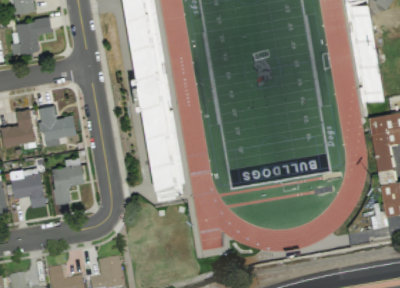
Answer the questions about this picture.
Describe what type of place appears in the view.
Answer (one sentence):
It's a sports ground.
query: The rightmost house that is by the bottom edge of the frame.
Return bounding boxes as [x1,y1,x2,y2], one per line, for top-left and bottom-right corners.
[91,255,126,288]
